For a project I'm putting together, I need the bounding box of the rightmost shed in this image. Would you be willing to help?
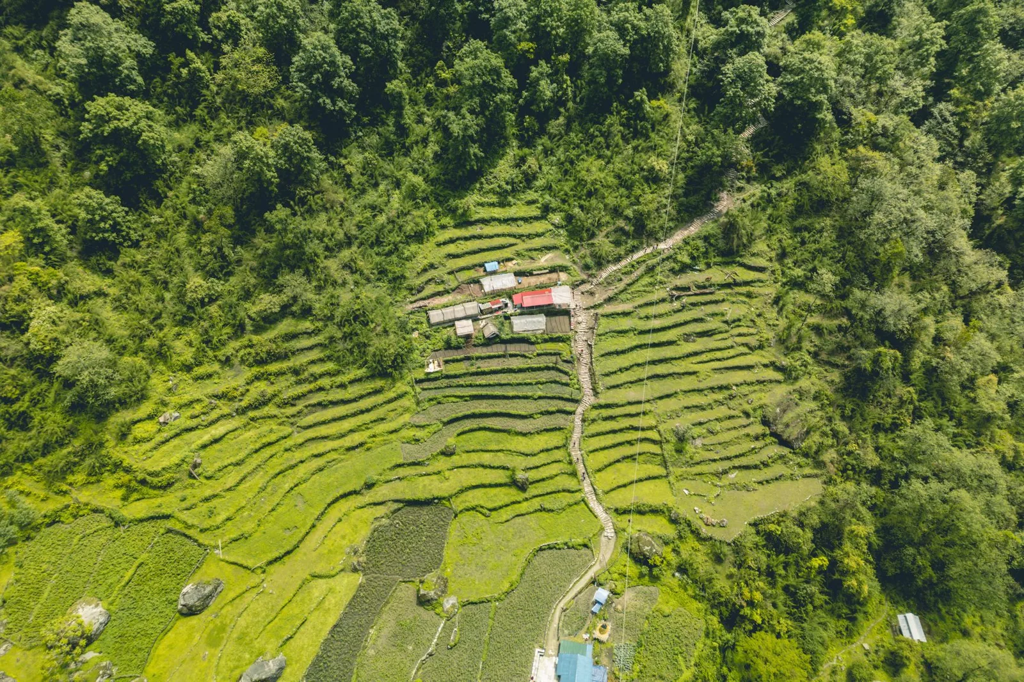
[895,613,927,643]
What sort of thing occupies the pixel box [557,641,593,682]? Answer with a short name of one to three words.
house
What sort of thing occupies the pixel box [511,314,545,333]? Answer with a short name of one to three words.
greenhouse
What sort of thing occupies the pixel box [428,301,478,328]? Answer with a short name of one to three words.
shed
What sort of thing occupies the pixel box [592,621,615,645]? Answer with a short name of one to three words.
building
